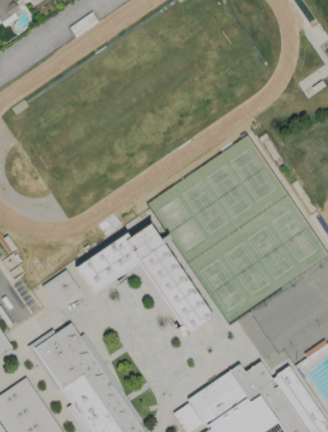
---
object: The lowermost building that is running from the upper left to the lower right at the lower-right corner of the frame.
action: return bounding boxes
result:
[274,366,328,432]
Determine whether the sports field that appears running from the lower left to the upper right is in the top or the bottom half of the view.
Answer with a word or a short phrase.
top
